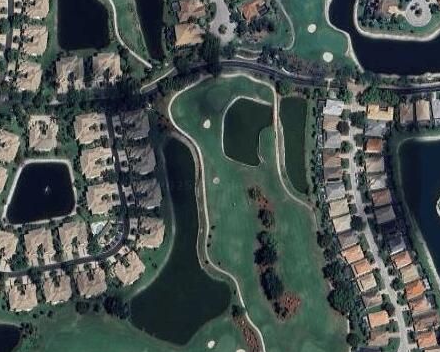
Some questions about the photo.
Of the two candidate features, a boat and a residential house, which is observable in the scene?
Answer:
residential house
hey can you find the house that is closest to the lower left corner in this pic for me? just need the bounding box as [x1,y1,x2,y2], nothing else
[9,284,38,310]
